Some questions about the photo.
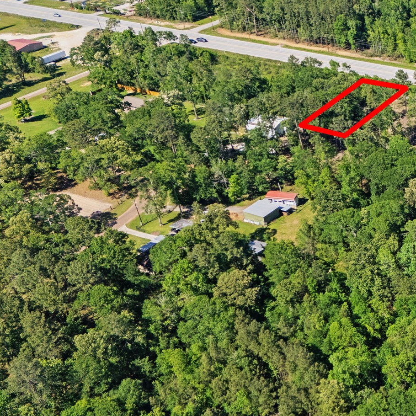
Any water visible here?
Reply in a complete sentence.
No, the scene doesn't show any water.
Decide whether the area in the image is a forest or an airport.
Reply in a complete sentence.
What you see here is a forest.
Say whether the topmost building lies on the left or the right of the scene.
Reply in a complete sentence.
The topmost building sits on the left side.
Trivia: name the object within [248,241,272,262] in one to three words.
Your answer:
house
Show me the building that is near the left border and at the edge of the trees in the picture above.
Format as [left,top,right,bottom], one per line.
[10,37,45,58]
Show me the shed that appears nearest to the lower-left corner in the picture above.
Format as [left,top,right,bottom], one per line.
[137,234,167,260]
